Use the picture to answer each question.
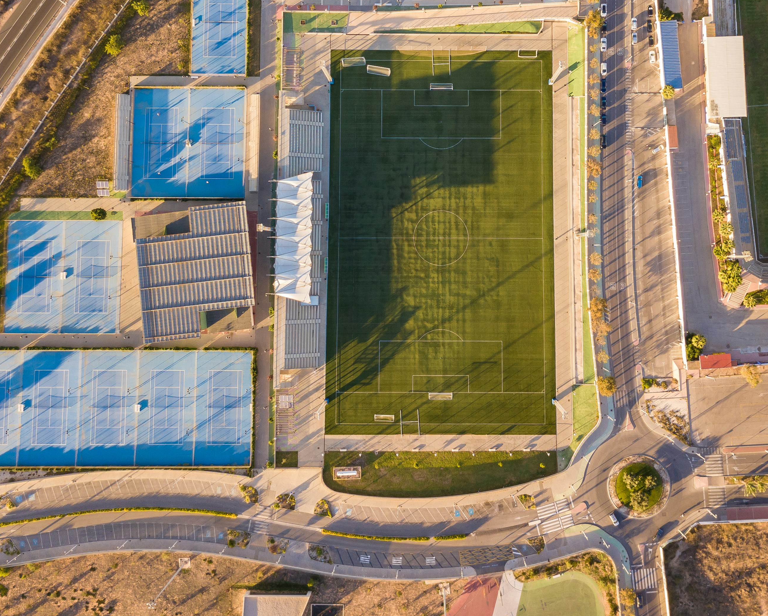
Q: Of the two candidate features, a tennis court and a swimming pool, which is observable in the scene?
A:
tennis court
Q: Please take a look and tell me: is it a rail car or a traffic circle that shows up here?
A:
traffic circle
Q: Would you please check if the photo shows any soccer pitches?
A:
Yes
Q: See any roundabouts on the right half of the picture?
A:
Yes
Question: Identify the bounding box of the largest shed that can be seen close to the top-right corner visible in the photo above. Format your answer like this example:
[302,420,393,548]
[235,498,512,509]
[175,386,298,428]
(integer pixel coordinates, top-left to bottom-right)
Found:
[661,20,682,92]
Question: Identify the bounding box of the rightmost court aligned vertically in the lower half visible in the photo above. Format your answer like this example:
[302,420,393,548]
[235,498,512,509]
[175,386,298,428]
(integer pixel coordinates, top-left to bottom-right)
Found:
[194,352,252,466]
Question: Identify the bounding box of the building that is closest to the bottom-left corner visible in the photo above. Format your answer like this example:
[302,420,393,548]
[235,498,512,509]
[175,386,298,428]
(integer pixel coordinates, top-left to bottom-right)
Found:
[244,587,312,616]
